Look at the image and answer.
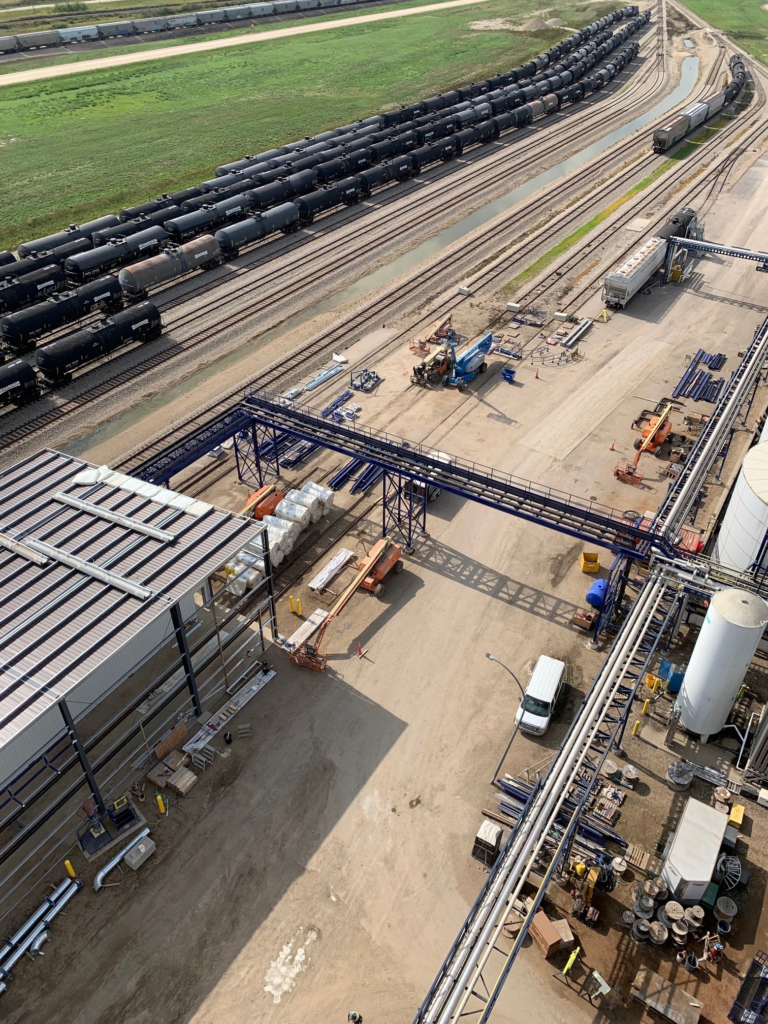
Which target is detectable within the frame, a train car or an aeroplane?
train car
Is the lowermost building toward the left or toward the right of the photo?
left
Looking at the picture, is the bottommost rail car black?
Yes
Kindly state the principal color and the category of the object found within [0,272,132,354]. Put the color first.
black rail car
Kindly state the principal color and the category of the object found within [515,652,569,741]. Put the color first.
white van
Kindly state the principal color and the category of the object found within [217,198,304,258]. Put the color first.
black rail car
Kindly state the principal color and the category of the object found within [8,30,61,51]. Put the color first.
gray rail car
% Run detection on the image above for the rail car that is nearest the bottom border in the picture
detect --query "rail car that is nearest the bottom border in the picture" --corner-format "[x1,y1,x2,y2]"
[0,357,47,408]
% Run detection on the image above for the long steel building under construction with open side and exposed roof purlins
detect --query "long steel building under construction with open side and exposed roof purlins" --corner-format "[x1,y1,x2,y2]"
[0,442,280,917]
